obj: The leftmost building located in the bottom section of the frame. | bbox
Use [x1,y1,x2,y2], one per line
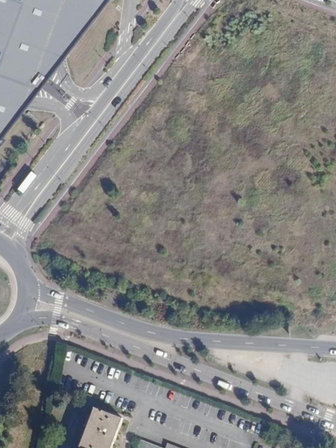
[76,407,124,448]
